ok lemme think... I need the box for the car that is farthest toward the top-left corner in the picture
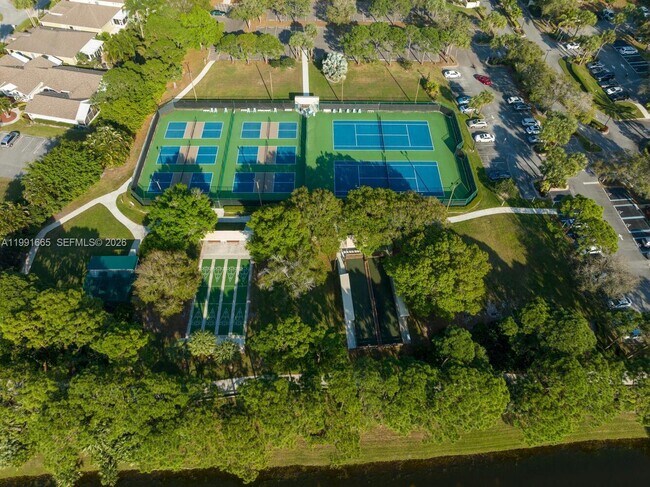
[3,131,20,146]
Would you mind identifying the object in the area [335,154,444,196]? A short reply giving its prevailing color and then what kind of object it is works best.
blue tennis court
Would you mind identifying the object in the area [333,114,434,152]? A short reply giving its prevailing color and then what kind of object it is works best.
blue tennis court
